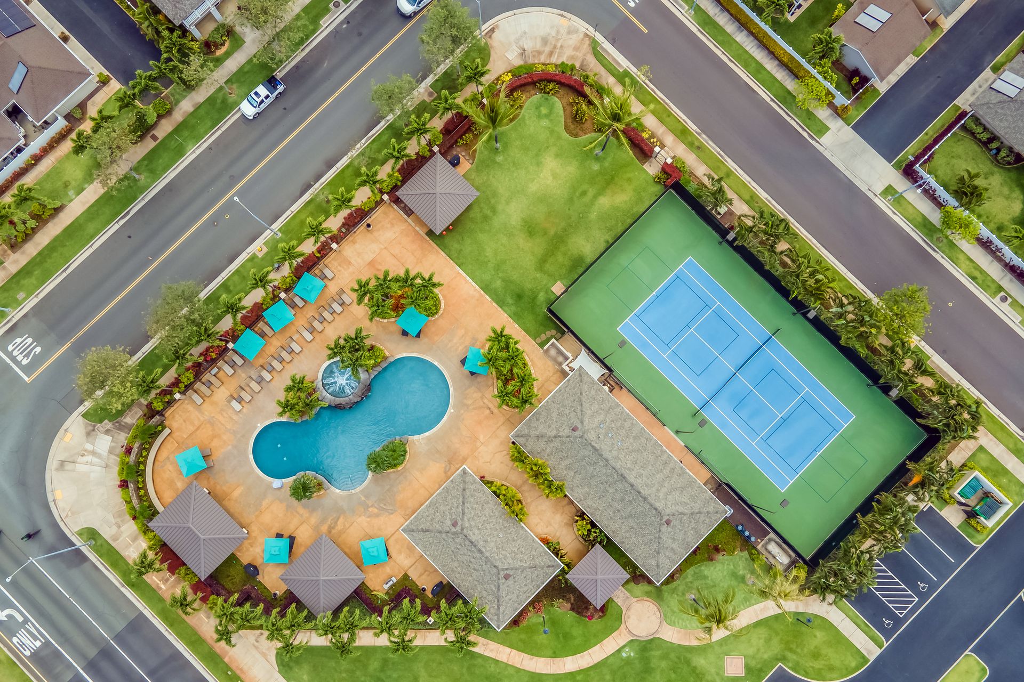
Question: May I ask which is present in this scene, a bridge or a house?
house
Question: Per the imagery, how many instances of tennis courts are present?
1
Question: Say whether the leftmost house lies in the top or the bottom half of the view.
top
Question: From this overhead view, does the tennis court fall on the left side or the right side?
right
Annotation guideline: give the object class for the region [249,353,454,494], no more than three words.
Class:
swimming pool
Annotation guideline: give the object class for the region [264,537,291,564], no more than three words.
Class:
umbrella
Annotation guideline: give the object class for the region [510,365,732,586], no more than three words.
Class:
building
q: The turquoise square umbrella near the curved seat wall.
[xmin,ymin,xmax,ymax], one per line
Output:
[177,445,209,478]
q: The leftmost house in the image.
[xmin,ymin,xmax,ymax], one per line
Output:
[0,0,105,170]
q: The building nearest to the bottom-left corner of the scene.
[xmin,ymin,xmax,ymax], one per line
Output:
[148,480,252,581]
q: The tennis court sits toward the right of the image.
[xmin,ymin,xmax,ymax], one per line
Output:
[551,189,927,557]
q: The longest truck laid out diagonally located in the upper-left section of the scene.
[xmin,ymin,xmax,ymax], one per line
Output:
[241,75,287,120]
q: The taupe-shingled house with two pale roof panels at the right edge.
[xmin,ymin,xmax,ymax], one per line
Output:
[961,49,1024,181]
